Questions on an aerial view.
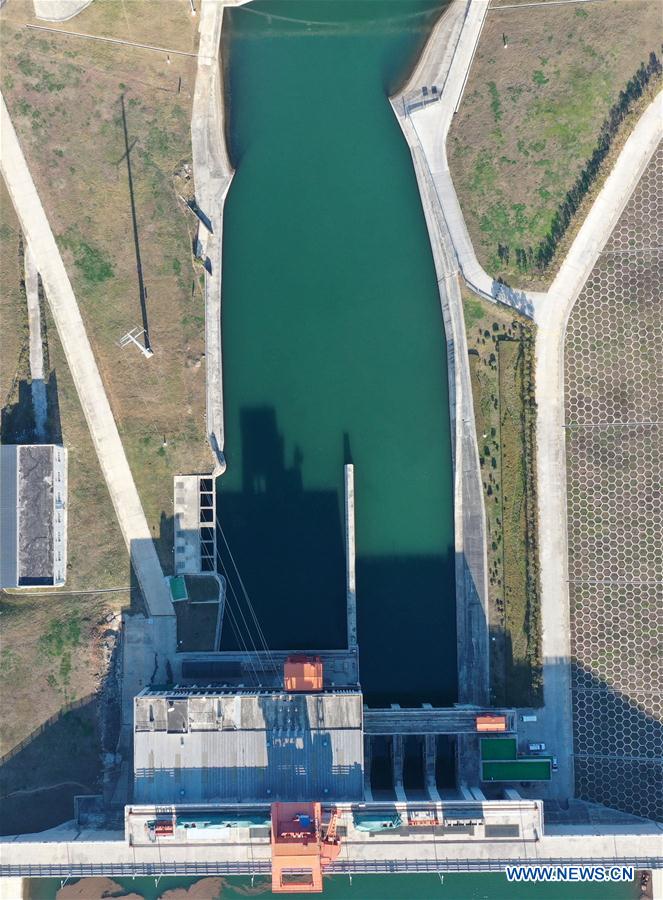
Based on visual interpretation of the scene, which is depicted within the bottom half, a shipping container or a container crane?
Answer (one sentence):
What appears within the bottom half is a container crane.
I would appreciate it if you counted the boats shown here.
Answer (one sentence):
Not a single boat can be seen.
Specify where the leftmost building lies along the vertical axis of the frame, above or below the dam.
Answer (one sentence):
The leftmost building appears above the dam in the picture.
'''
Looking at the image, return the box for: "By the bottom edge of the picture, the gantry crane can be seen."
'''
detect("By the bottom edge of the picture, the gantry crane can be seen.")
[271,809,343,890]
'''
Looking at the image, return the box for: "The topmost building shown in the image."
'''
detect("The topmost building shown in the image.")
[0,446,70,586]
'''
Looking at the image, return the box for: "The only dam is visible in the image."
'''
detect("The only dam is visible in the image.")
[0,779,663,875]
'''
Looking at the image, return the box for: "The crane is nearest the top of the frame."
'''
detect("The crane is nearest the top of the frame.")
[283,647,323,691]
